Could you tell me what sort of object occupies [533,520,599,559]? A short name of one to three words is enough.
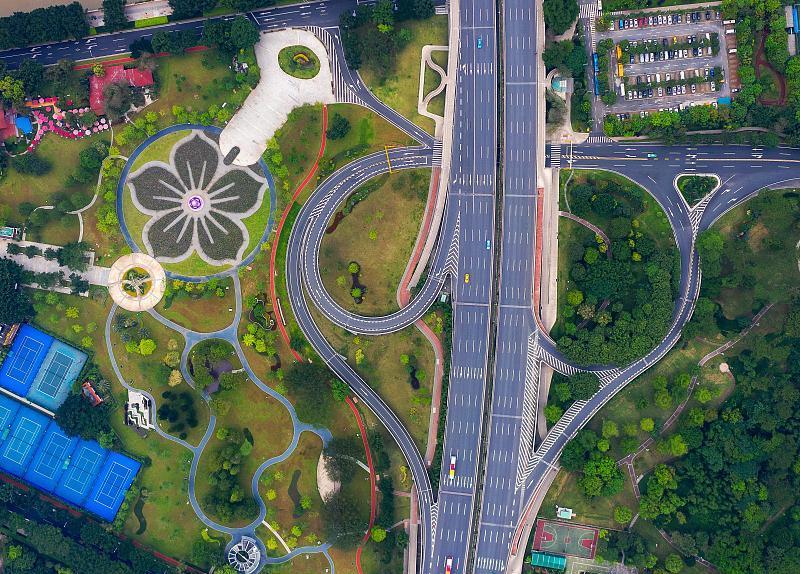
basketball court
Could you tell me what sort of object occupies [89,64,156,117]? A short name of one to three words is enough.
building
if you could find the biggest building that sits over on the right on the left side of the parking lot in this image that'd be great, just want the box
[548,76,571,92]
